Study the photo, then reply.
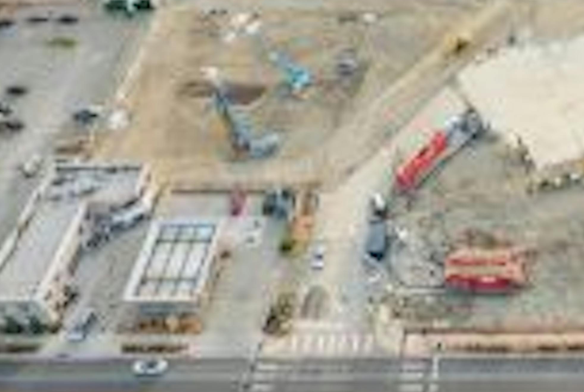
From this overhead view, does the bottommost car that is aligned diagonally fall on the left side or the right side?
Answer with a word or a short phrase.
left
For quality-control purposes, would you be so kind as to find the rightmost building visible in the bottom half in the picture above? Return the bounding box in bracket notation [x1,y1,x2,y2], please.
[123,220,228,323]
